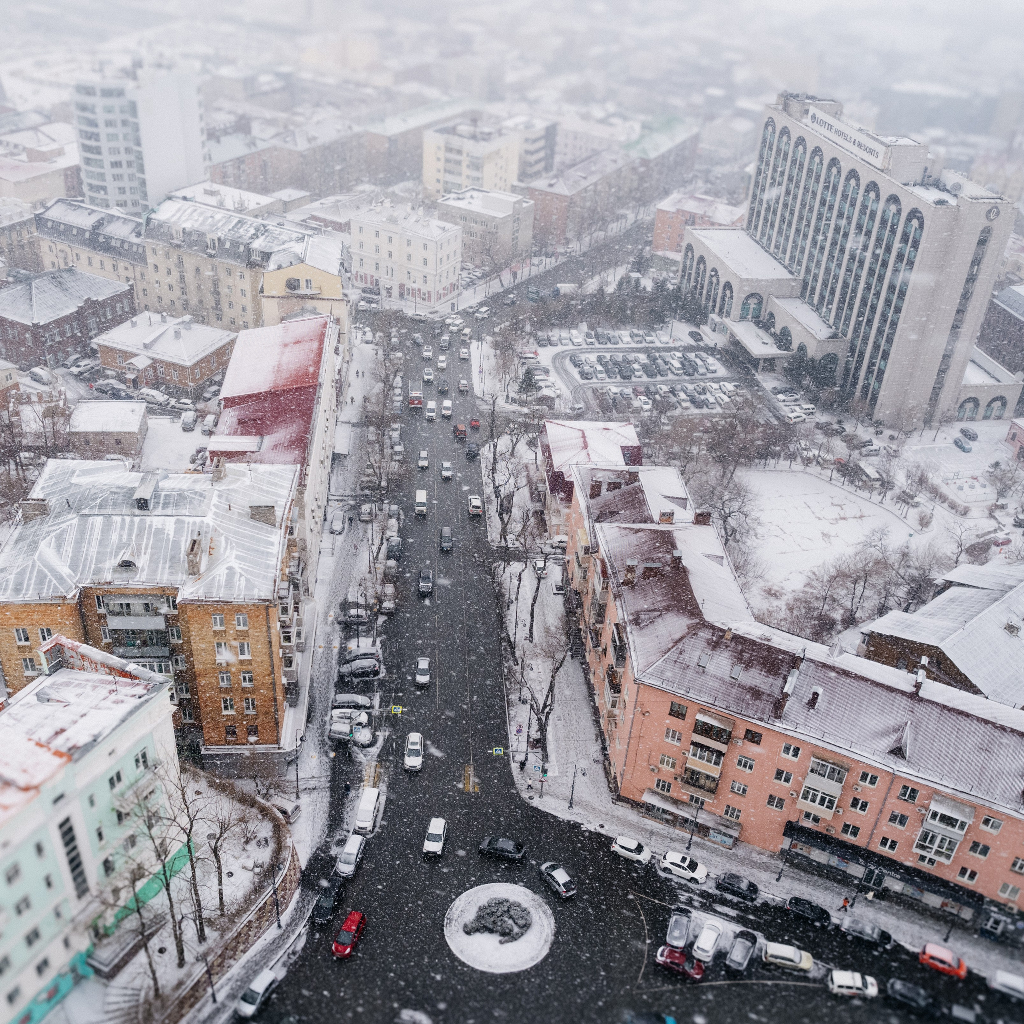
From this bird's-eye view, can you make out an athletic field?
Yes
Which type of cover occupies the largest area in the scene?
buildings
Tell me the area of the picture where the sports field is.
right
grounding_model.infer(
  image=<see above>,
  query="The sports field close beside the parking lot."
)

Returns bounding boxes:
[740,469,933,592]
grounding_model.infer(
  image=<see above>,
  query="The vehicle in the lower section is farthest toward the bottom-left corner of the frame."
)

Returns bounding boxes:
[232,958,280,1024]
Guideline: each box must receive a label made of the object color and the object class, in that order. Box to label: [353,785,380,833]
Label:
white vehicle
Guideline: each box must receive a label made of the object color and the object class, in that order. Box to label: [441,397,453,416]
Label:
white vehicle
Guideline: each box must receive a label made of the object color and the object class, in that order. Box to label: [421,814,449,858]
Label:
white car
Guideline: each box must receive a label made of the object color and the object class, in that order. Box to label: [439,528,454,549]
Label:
gray car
